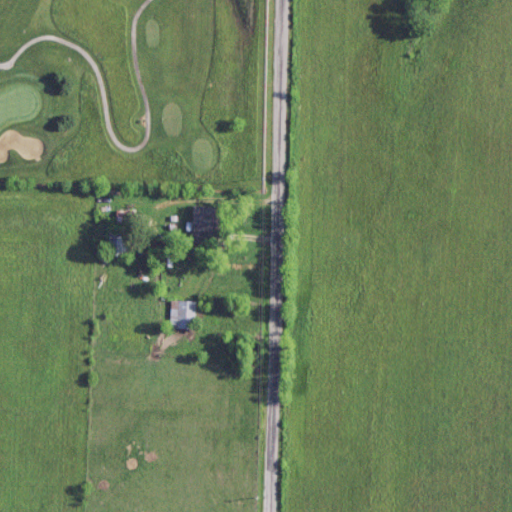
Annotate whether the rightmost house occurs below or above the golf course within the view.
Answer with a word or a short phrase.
below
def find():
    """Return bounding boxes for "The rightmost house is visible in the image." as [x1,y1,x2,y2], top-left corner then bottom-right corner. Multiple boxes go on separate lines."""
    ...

[194,203,218,237]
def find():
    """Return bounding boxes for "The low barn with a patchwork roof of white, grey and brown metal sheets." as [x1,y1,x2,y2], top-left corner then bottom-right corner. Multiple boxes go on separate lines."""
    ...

[170,301,196,332]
